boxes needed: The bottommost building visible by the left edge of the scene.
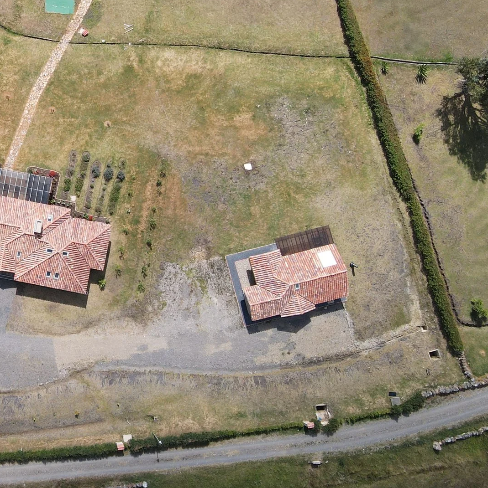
[0,196,113,295]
